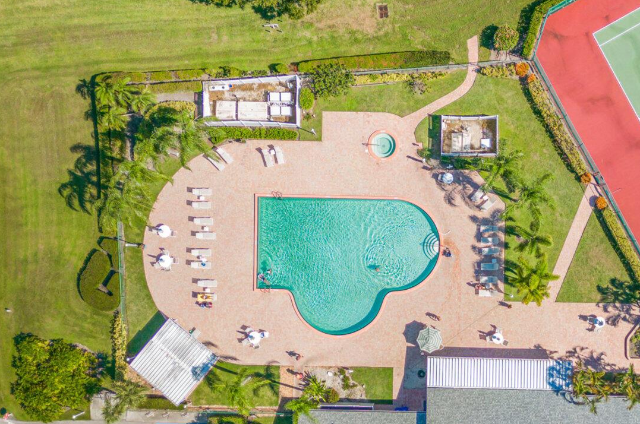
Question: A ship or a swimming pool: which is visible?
swimming pool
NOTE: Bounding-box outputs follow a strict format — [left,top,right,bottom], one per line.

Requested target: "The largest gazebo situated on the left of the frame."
[128,318,220,406]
